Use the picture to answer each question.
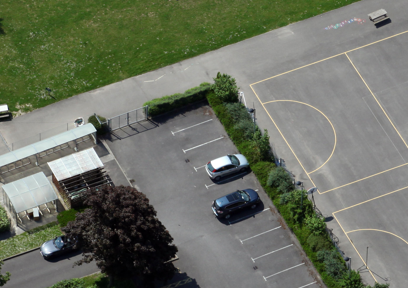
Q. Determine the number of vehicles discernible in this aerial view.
3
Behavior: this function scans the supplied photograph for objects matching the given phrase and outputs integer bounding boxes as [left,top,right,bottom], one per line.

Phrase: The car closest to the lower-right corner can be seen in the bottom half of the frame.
[211,188,261,220]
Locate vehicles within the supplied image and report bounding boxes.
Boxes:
[204,153,249,180]
[42,229,86,257]
[211,188,261,220]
